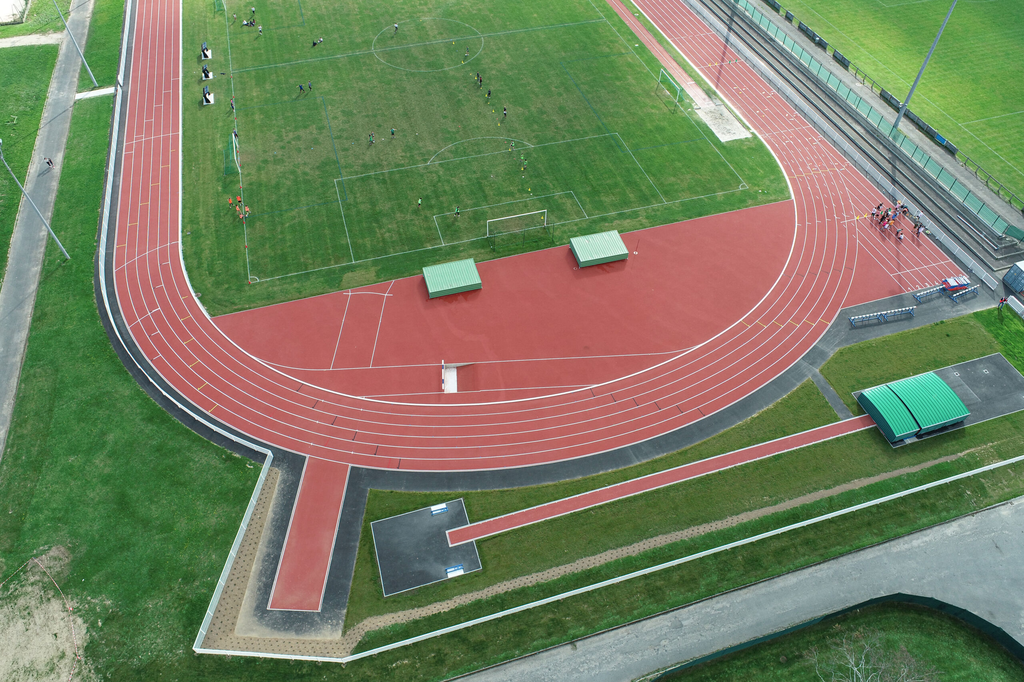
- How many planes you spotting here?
zero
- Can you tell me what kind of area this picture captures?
sports ground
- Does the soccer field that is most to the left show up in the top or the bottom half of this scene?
top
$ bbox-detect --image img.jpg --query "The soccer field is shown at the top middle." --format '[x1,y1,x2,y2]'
[179,0,793,318]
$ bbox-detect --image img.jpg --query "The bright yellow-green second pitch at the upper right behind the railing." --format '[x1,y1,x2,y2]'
[769,0,1024,211]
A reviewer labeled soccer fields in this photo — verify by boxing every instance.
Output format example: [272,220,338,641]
[179,0,793,318]
[769,0,1024,211]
